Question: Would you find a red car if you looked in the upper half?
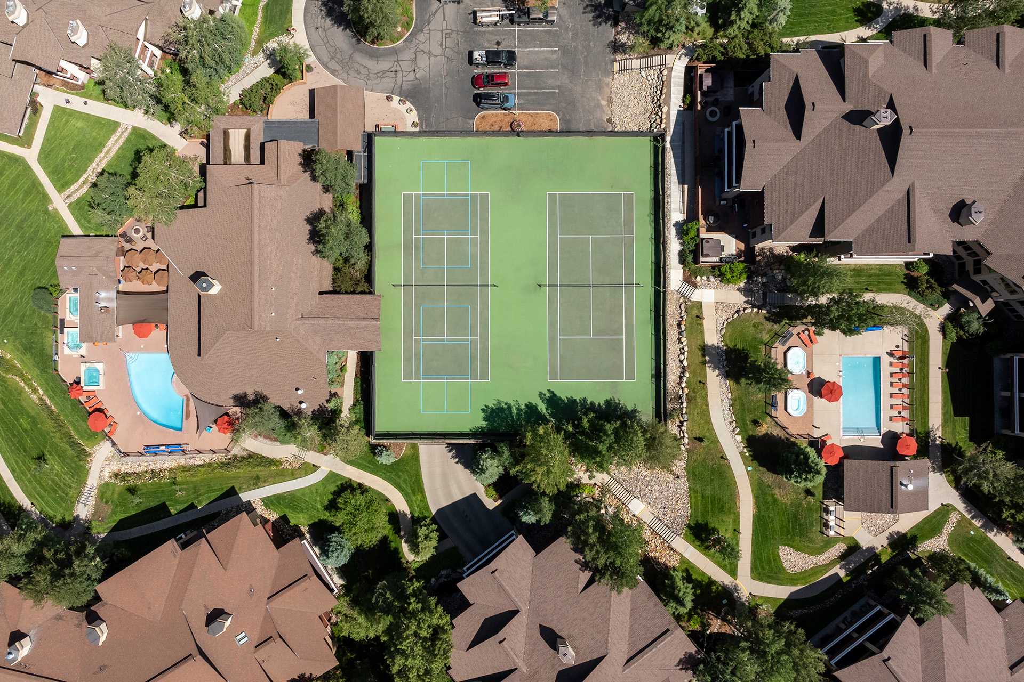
Yes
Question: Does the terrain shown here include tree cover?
Yes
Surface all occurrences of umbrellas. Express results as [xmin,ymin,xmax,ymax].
[821,443,843,465]
[125,250,141,267]
[69,383,87,397]
[88,411,108,431]
[821,381,841,402]
[155,251,169,267]
[154,269,169,286]
[133,324,154,339]
[139,269,155,285]
[140,249,156,265]
[121,267,140,283]
[895,434,917,455]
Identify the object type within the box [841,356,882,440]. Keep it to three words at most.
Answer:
swimming pool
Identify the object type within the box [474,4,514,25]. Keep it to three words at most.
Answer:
trailer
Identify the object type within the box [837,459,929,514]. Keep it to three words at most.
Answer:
shed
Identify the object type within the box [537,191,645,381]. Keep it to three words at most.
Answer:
tennis court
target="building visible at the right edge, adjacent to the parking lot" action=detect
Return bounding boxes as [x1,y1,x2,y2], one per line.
[723,25,1024,316]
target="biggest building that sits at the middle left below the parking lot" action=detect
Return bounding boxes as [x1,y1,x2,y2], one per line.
[155,139,383,410]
